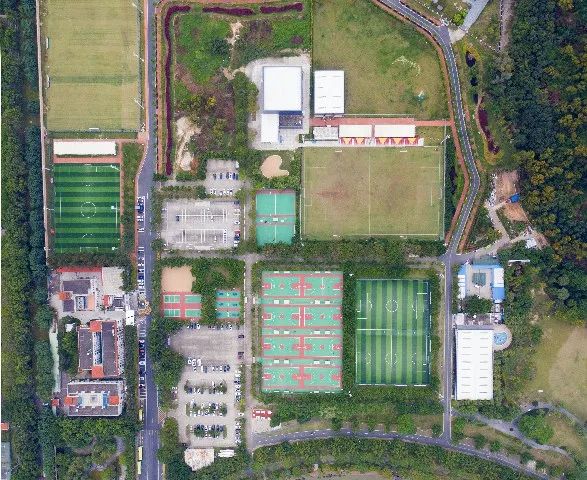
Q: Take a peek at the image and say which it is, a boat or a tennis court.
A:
tennis court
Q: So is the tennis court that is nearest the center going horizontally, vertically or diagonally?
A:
horizontally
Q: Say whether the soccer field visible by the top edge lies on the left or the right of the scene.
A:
left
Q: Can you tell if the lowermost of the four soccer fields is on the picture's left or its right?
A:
right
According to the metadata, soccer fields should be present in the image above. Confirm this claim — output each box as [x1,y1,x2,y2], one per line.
[355,280,431,386]
[48,0,137,131]
[302,146,444,240]
[54,163,120,253]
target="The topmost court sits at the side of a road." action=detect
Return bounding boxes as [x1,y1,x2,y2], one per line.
[257,194,296,214]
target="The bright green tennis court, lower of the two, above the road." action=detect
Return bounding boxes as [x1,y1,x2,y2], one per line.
[257,225,296,245]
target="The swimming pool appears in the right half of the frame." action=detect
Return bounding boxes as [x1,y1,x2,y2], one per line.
[494,325,512,350]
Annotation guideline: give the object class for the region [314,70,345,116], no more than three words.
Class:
building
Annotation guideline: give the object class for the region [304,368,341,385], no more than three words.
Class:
basketball court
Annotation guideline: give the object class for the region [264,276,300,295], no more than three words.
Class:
basketball court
